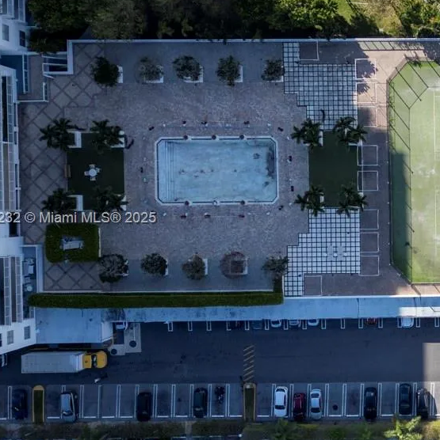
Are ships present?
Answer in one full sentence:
No, the picture doesn't show any ship.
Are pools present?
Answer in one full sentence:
Yes, looking at the shot, I can spot a pool.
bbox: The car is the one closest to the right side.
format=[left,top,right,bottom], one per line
[416,388,431,419]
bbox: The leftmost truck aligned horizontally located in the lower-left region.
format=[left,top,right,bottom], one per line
[23,349,114,371]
